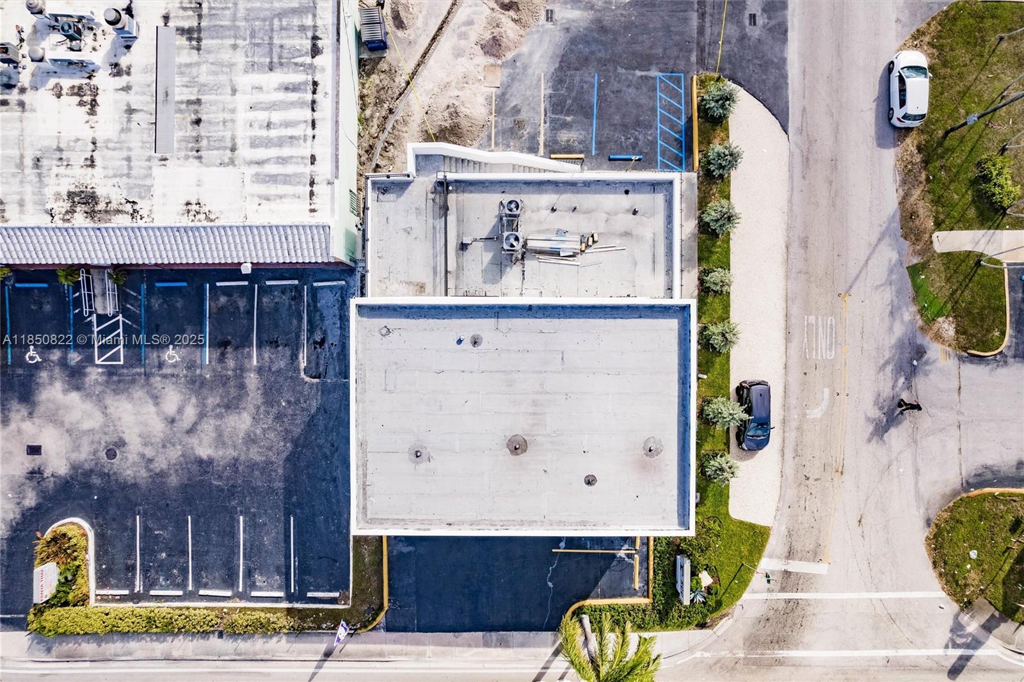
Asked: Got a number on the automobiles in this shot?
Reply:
2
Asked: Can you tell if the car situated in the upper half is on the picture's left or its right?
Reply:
right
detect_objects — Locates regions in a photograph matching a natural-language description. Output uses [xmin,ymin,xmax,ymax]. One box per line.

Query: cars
[890,49,937,127]
[738,378,781,452]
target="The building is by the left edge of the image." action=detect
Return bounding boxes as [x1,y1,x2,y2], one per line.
[0,0,358,273]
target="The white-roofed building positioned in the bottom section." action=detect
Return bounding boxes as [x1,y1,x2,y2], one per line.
[351,298,695,535]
